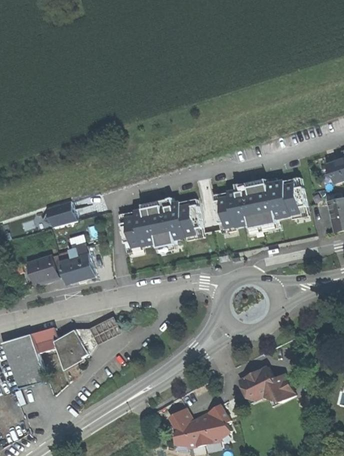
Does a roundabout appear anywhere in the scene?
Yes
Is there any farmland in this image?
Yes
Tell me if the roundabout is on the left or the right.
right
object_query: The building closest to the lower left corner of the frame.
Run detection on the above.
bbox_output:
[2,336,42,388]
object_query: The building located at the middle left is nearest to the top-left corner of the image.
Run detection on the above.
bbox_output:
[44,199,78,228]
